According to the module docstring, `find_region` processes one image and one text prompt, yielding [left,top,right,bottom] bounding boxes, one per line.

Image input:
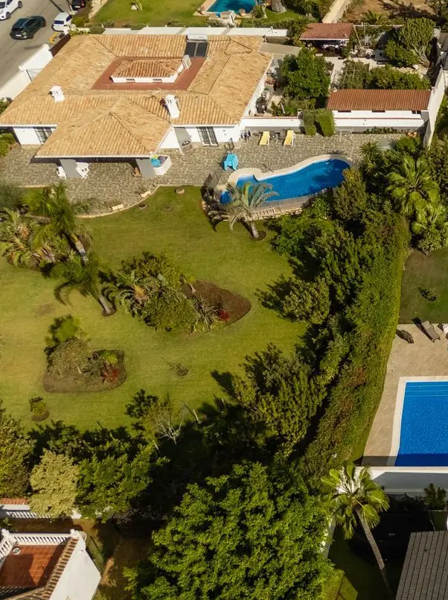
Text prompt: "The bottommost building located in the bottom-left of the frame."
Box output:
[0,530,98,600]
